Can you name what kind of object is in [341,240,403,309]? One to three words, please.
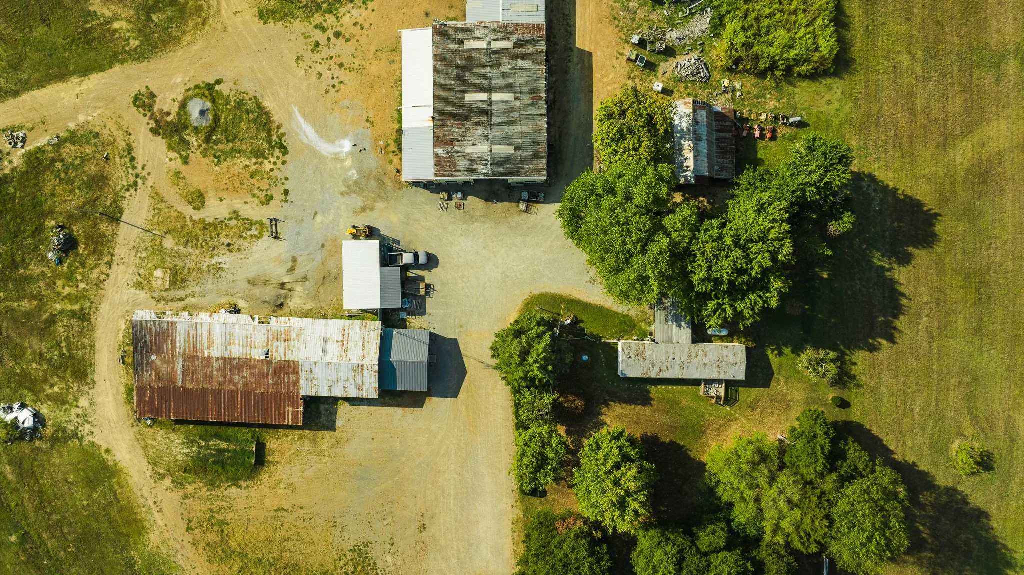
shed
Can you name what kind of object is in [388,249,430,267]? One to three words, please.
vehicle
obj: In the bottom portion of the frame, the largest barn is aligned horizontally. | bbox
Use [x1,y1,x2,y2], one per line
[128,311,385,425]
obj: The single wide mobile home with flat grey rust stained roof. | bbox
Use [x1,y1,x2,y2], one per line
[618,341,746,380]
